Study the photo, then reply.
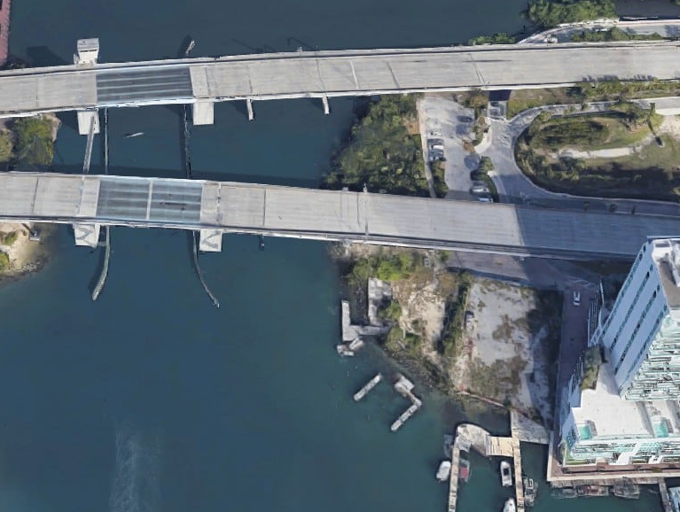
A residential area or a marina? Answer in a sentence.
The area seen from above is a marina.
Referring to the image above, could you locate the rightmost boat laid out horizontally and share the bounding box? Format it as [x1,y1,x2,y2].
[612,485,643,499]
